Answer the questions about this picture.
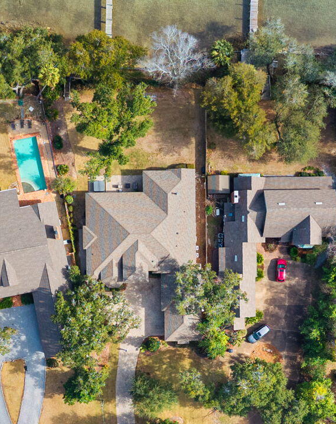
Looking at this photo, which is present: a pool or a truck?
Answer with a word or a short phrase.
pool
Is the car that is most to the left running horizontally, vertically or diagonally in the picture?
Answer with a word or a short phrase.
diagonally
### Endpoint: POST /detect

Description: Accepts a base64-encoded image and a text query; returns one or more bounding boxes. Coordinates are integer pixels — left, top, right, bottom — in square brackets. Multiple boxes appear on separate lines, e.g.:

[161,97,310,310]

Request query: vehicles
[275,259,286,283]
[247,324,271,344]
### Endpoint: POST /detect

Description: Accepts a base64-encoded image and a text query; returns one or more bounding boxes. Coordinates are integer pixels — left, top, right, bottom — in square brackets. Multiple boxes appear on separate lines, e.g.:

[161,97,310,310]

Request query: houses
[218,173,336,330]
[0,188,76,356]
[83,169,205,344]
